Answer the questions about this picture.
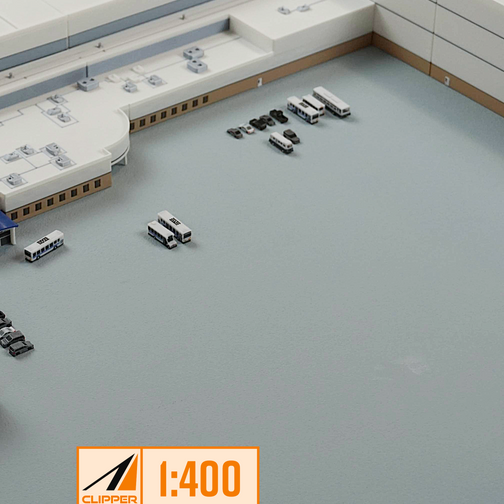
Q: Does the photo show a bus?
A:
Yes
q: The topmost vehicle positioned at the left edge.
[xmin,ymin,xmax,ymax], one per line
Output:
[24,230,65,260]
